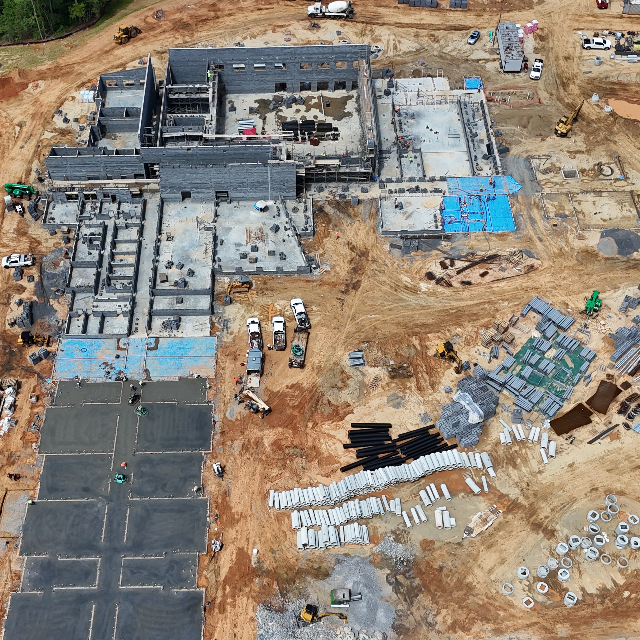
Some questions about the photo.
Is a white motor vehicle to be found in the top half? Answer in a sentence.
Yes, in the top half there is a white motor vehicle.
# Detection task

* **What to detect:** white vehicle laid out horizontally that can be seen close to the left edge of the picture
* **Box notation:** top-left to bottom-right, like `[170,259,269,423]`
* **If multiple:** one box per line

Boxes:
[0,254,36,269]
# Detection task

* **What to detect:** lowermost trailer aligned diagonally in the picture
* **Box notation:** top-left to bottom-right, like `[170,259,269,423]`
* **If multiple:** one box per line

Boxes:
[453,502,505,538]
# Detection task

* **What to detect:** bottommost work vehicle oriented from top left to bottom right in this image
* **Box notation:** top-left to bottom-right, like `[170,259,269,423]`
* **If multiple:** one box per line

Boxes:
[227,384,269,417]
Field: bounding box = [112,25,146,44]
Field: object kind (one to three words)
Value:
work vehicle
